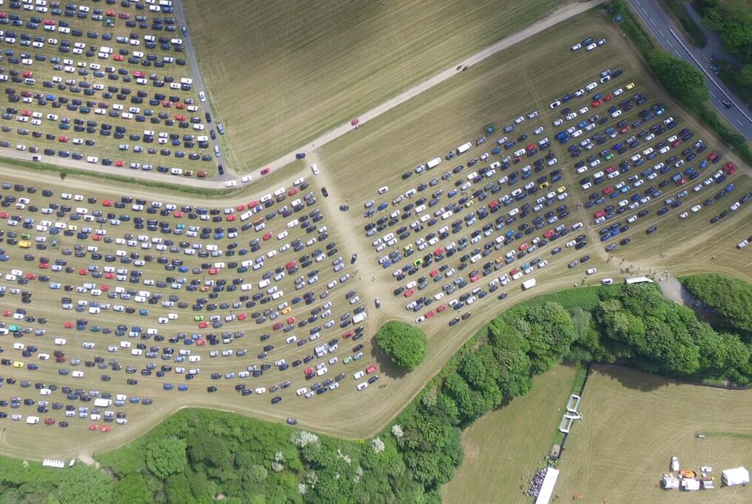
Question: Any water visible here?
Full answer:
No, there is no water in the image.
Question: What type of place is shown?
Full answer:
This looks like a parking lot.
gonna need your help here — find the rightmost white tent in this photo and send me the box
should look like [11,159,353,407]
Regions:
[718,463,750,487]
